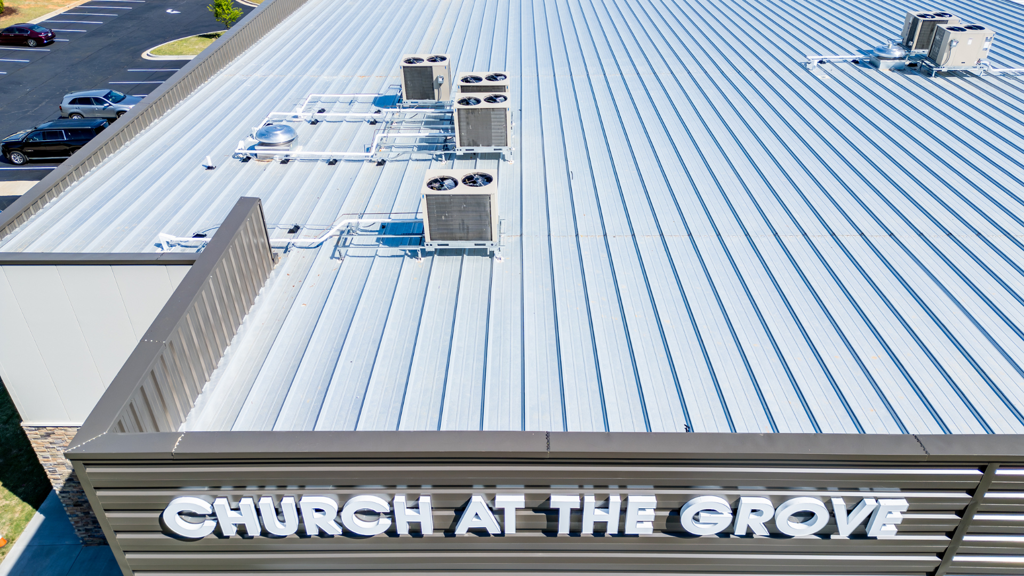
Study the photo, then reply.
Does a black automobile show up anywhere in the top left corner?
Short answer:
Yes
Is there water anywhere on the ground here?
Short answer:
No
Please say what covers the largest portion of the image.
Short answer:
buildings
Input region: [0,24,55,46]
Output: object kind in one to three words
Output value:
car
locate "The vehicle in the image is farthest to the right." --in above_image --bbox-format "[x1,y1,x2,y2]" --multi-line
[61,91,140,120]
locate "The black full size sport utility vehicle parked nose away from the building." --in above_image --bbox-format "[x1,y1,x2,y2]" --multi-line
[0,119,108,163]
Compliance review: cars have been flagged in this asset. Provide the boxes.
[0,24,55,46]
[0,119,108,163]
[61,91,140,120]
